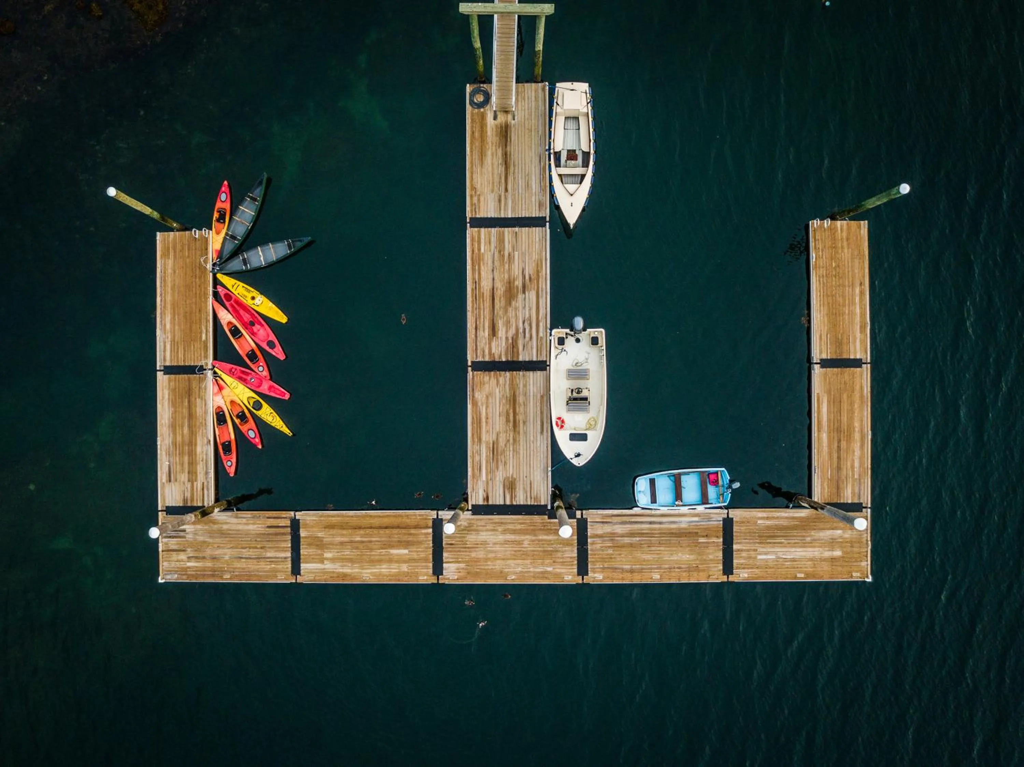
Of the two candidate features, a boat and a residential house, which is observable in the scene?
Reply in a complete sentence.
The one in the frame is a boat.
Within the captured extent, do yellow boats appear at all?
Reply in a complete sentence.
Yes, I can see a yellow boat in this picture.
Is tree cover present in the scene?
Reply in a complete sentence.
No, tree cover can't be seen anywhere here.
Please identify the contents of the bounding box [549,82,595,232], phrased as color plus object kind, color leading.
white boat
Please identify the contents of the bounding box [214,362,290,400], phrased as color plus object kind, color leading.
red boat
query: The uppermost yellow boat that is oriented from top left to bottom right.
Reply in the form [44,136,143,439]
[215,273,287,323]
